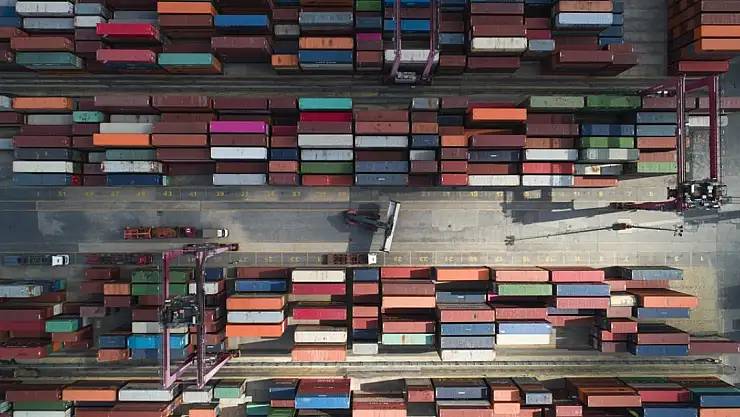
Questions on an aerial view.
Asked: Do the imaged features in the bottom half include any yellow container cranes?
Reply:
No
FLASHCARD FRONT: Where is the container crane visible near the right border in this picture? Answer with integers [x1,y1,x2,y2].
[613,74,723,210]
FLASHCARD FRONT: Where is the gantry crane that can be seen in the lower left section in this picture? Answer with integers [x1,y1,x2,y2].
[154,243,245,390]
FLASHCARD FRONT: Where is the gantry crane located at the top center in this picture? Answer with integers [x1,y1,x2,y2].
[379,0,439,79]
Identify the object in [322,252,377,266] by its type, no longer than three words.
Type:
vehicle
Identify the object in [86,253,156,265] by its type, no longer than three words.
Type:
vehicle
